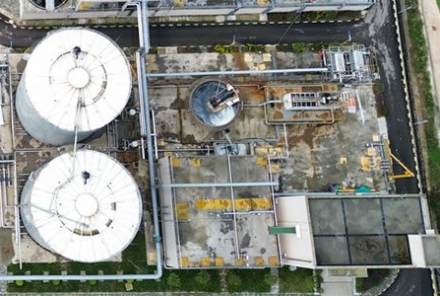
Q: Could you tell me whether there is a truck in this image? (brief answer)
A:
No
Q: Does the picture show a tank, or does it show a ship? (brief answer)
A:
tank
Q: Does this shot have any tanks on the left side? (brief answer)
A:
Yes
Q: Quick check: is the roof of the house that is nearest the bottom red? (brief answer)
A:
No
